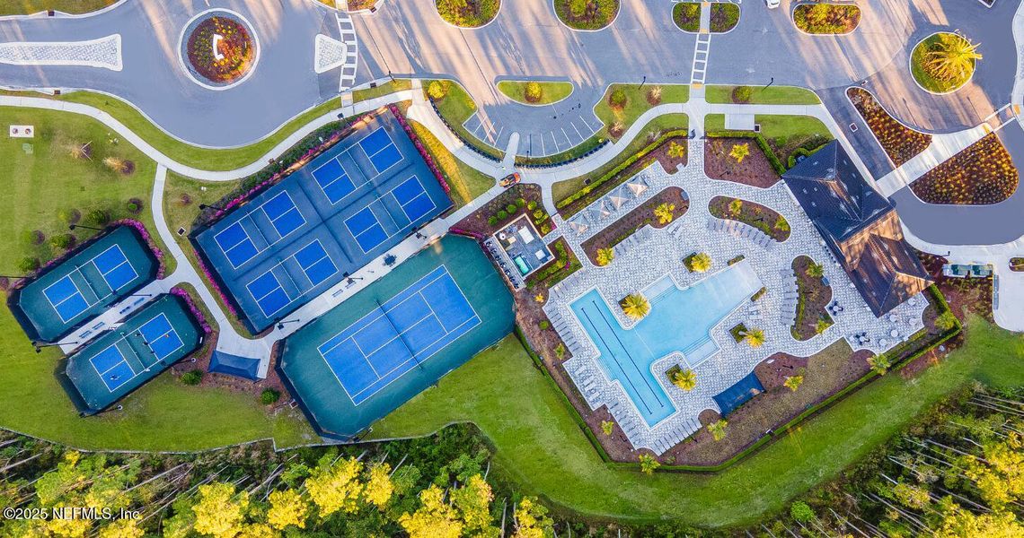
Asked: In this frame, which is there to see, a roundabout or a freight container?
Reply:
roundabout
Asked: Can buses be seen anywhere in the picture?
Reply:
No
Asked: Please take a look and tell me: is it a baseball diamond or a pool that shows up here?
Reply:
pool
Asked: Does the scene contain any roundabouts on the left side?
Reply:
Yes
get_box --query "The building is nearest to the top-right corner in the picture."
[776,138,933,319]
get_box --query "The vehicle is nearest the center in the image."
[498,170,522,189]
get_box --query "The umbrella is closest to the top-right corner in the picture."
[627,176,647,196]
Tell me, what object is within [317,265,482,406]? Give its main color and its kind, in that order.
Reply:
blue tennis court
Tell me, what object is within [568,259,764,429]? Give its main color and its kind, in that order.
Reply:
blue swimming pool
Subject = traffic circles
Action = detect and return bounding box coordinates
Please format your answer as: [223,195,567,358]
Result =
[178,7,260,89]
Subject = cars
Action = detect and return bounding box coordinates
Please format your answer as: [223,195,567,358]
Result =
[768,0,781,8]
[498,170,522,189]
